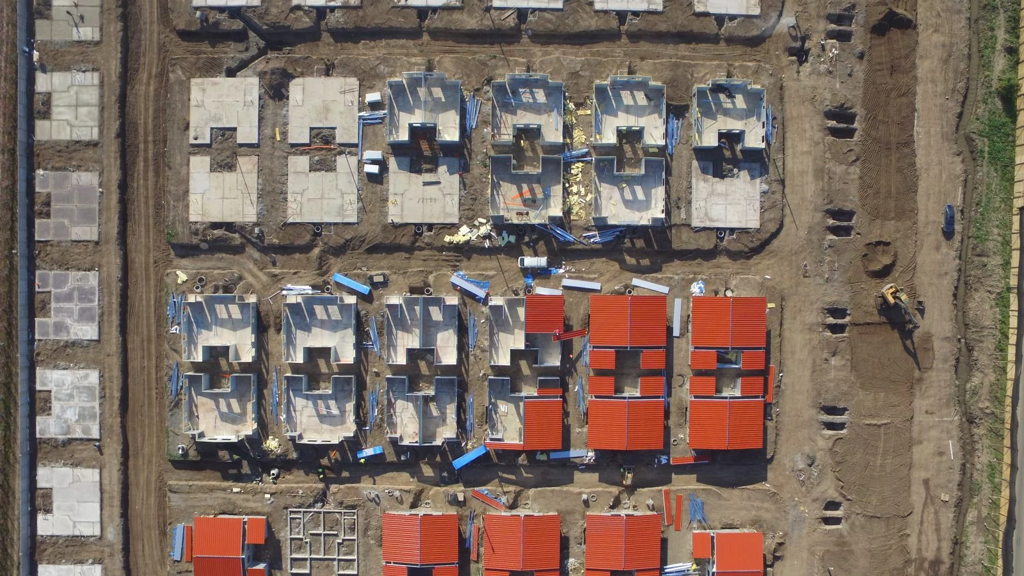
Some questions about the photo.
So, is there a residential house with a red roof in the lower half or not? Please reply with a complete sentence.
Yes, a residential house with a red roof is visible in the lower half.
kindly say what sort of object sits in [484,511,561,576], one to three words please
house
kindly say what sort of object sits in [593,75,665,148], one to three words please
house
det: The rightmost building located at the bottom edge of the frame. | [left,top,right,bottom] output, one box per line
[691,528,768,576]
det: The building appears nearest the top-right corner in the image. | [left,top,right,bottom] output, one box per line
[690,78,765,151]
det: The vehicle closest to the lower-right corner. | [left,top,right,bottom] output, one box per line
[873,285,920,333]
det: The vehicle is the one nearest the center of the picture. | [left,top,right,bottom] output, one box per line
[518,255,548,268]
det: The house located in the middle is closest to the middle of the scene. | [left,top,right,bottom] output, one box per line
[491,295,564,366]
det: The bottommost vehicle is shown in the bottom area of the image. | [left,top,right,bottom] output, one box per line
[620,462,633,483]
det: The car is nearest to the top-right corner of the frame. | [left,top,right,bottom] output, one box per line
[938,205,955,233]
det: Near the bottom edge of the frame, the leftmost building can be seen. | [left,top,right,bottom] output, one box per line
[191,515,271,576]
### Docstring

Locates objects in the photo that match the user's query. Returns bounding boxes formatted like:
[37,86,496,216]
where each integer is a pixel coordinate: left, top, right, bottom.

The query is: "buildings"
[282,296,356,364]
[590,295,667,368]
[382,510,459,576]
[491,154,561,224]
[687,375,765,450]
[181,295,257,364]
[492,73,562,146]
[385,373,457,445]
[191,515,271,576]
[691,295,769,368]
[484,511,561,576]
[585,511,662,576]
[385,297,456,365]
[593,75,665,148]
[691,528,768,576]
[387,72,458,145]
[491,295,564,366]
[690,78,765,151]
[181,372,258,443]
[487,374,564,449]
[282,373,356,444]
[588,375,665,449]
[593,156,665,226]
